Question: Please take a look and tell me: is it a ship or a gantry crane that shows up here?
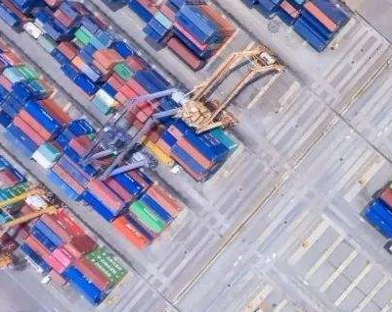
gantry crane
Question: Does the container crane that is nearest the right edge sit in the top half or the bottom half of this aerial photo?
top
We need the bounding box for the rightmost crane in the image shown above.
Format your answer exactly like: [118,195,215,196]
[171,44,286,146]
